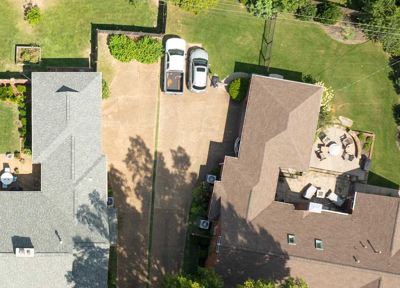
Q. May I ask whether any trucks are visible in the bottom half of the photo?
No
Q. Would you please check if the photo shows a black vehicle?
No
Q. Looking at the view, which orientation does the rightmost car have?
from top to bottom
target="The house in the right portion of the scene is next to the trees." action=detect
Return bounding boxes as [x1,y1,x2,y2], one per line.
[205,74,400,288]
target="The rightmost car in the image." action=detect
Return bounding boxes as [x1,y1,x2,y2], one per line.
[187,47,210,94]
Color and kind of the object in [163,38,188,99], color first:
white truck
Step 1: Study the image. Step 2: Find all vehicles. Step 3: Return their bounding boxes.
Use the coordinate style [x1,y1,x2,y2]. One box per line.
[163,38,188,99]
[187,47,210,94]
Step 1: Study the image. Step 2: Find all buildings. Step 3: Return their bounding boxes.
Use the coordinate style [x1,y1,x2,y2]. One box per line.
[0,72,117,288]
[205,74,400,288]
